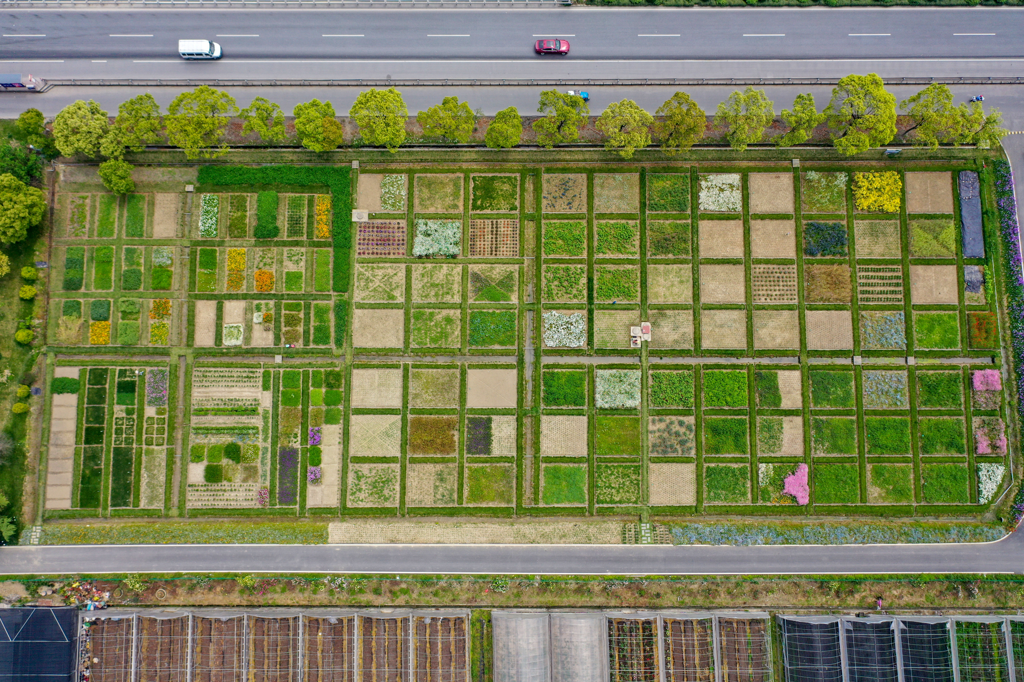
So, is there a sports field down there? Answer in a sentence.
No, I can see no sports field in this picture.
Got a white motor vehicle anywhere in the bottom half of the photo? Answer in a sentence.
No, in the bottom half of the photo there is no white motor vehicle.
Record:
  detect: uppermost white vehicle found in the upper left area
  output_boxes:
[176,41,221,61]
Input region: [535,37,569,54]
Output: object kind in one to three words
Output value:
car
